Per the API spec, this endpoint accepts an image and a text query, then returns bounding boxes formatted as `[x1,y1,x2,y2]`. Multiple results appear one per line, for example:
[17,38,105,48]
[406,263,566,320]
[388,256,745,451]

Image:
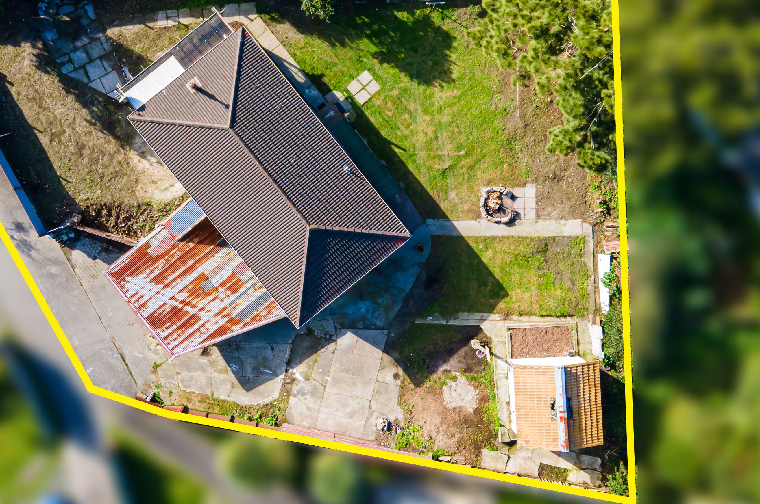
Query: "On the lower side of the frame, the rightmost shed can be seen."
[506,354,604,455]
